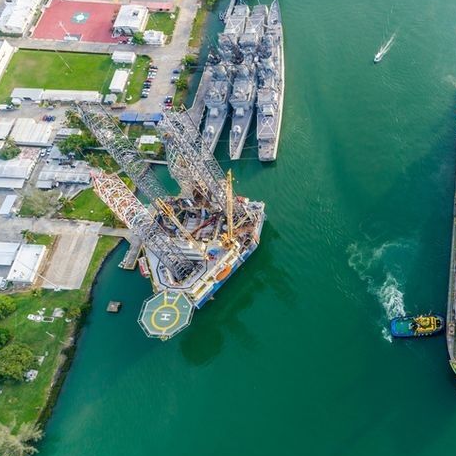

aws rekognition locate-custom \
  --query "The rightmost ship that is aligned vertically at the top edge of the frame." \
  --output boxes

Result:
[256,0,285,166]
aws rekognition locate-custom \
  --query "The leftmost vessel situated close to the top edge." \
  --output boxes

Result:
[210,4,249,158]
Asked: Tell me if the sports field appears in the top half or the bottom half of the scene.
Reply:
top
